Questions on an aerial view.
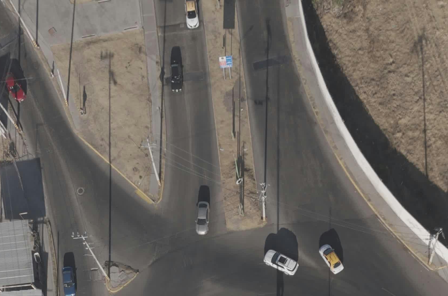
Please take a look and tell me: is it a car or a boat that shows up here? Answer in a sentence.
There is a car in the scene.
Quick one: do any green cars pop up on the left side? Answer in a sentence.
No, no green car appears on the left side.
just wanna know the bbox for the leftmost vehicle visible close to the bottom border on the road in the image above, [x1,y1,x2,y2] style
[61,266,78,296]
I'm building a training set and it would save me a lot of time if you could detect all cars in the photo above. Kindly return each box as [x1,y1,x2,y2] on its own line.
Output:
[184,0,200,32]
[5,70,26,104]
[194,200,210,236]
[61,266,78,296]
[263,251,299,276]
[169,60,184,94]
[321,244,344,275]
